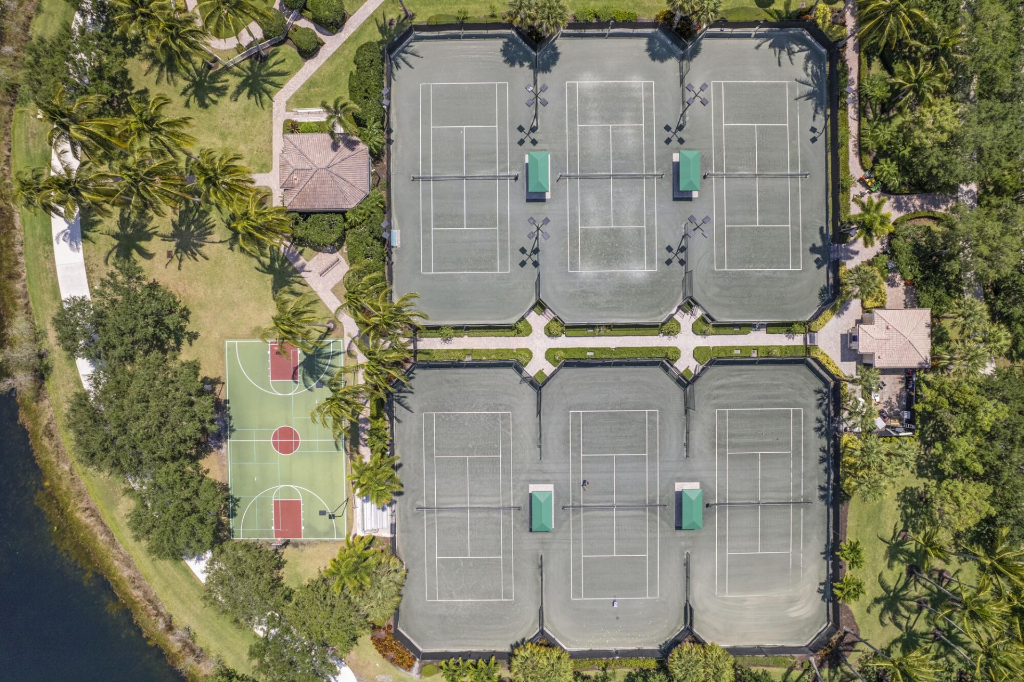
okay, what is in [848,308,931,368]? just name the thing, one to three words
building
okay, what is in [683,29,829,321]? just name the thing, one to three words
tennis court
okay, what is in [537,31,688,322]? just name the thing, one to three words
tennis court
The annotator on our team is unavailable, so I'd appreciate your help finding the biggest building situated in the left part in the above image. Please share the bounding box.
[278,133,370,210]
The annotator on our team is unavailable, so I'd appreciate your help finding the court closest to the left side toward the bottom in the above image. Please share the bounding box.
[224,338,349,542]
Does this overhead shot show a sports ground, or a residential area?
sports ground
